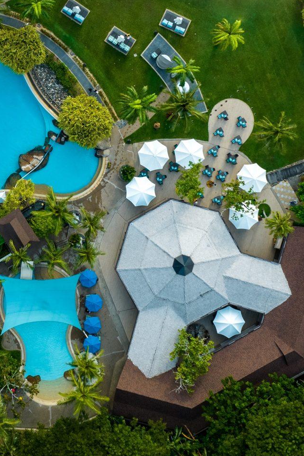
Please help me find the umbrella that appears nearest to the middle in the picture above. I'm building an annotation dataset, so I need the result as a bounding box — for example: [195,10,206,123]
[123,174,157,208]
